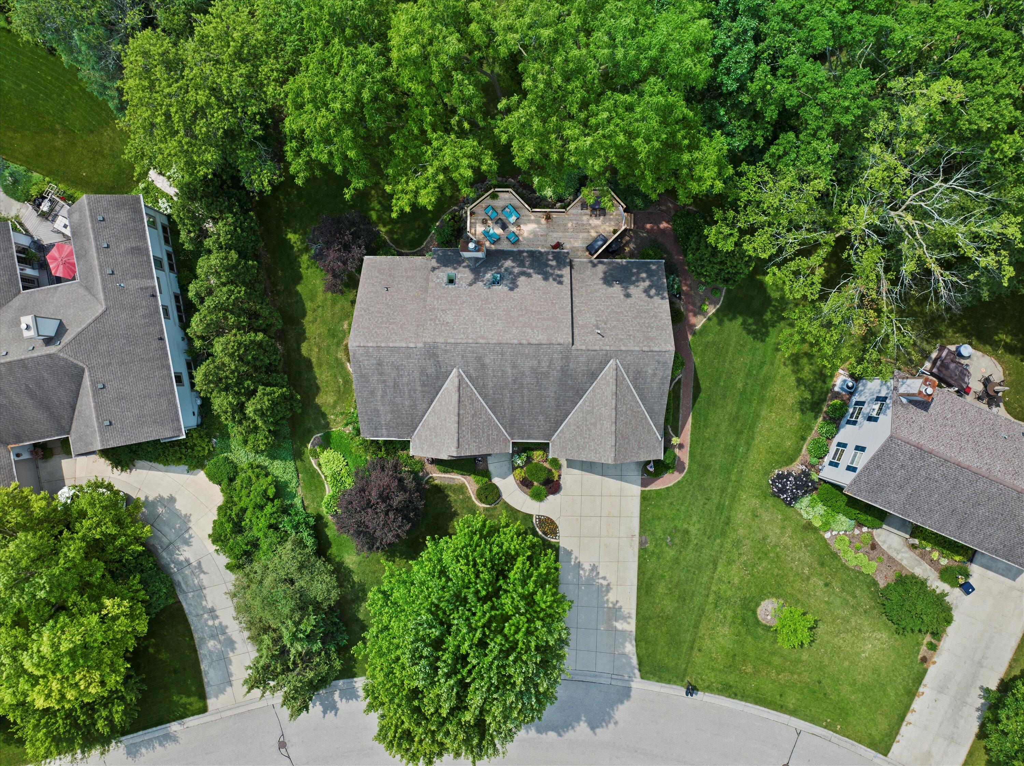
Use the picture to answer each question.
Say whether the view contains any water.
No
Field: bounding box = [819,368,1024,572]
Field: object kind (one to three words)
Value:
house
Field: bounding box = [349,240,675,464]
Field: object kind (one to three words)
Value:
house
